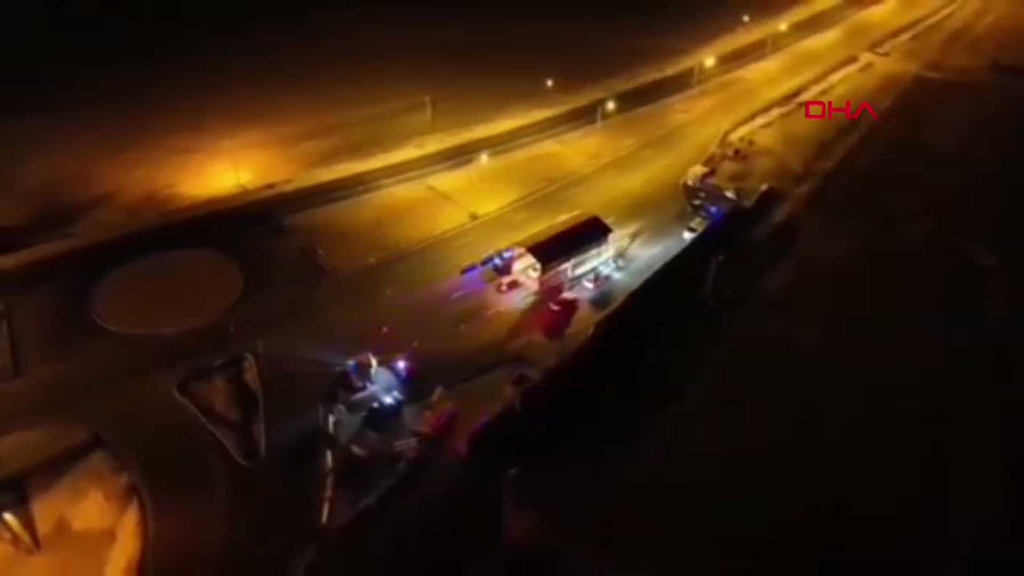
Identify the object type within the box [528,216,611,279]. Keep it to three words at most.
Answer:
trailer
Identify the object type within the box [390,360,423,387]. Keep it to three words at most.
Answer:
car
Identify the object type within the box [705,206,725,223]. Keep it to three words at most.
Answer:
car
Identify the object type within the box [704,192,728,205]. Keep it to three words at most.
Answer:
vehicle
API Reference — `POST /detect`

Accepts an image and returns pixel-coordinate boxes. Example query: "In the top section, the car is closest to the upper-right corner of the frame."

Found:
[755,183,772,197]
